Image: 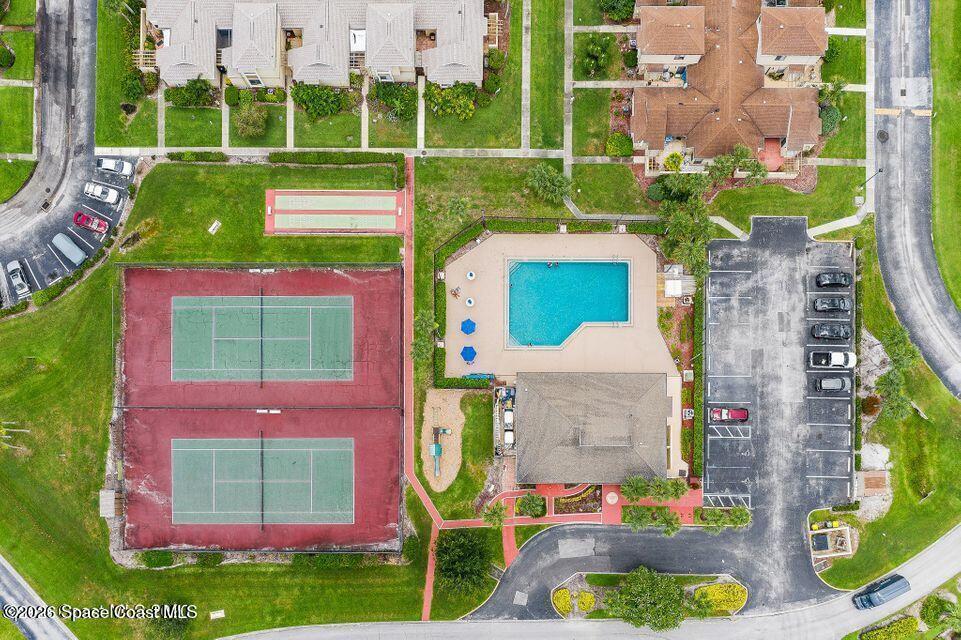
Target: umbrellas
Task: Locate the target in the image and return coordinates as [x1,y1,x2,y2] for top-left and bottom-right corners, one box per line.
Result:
[461,318,475,334]
[461,346,478,360]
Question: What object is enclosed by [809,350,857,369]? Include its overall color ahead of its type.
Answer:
white vehicle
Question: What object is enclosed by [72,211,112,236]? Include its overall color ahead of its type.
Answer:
red car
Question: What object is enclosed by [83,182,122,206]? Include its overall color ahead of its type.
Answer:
white car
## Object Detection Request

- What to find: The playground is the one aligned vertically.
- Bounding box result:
[429,407,452,477]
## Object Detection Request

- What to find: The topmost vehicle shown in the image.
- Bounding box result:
[97,158,136,178]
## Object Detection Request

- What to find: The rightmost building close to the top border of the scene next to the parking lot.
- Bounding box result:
[631,0,825,182]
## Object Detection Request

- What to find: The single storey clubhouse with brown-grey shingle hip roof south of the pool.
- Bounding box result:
[516,372,673,485]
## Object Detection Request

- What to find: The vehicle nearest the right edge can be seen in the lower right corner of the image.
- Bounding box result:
[854,572,907,606]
